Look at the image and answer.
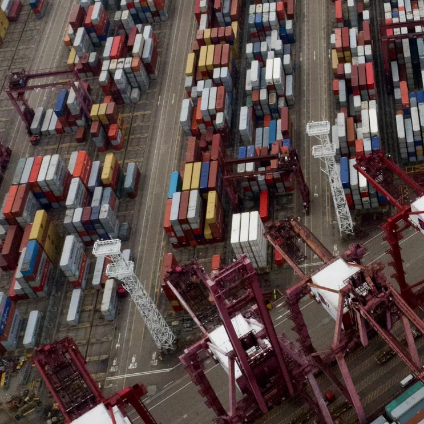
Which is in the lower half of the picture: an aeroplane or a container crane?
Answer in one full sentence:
The one visible in the lower half of the picture is a container crane.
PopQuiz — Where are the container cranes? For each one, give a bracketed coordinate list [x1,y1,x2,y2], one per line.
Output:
[357,148,424,313]
[256,205,424,424]
[158,262,336,424]
[215,146,308,218]
[0,65,93,141]
[29,335,165,424]
[378,19,424,92]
